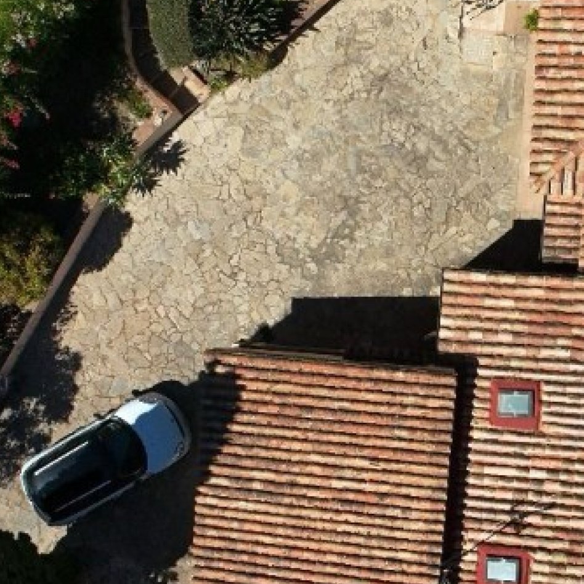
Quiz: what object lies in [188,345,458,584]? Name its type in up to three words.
building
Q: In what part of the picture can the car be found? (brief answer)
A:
bottom left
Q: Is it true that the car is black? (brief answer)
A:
Yes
